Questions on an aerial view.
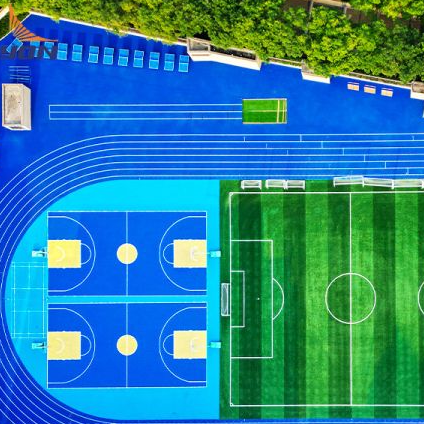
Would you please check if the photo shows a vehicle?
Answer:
No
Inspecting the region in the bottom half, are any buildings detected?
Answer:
No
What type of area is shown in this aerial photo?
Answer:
sports ground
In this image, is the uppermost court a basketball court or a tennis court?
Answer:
basketball court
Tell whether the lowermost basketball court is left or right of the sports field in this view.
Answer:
to the left of it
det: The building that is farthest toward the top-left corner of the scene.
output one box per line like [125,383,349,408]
[2,85,31,131]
